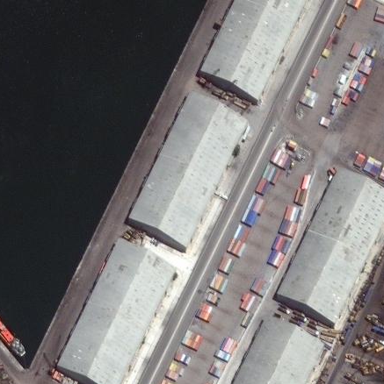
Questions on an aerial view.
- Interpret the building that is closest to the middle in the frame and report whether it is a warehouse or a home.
warehouse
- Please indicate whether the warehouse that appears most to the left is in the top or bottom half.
bottom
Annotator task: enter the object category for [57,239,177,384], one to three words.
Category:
warehouse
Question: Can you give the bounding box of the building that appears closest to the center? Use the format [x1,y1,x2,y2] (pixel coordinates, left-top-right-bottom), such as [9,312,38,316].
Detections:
[128,93,248,252]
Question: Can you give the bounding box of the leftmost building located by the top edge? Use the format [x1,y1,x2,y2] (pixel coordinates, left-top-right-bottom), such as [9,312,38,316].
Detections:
[201,0,306,104]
